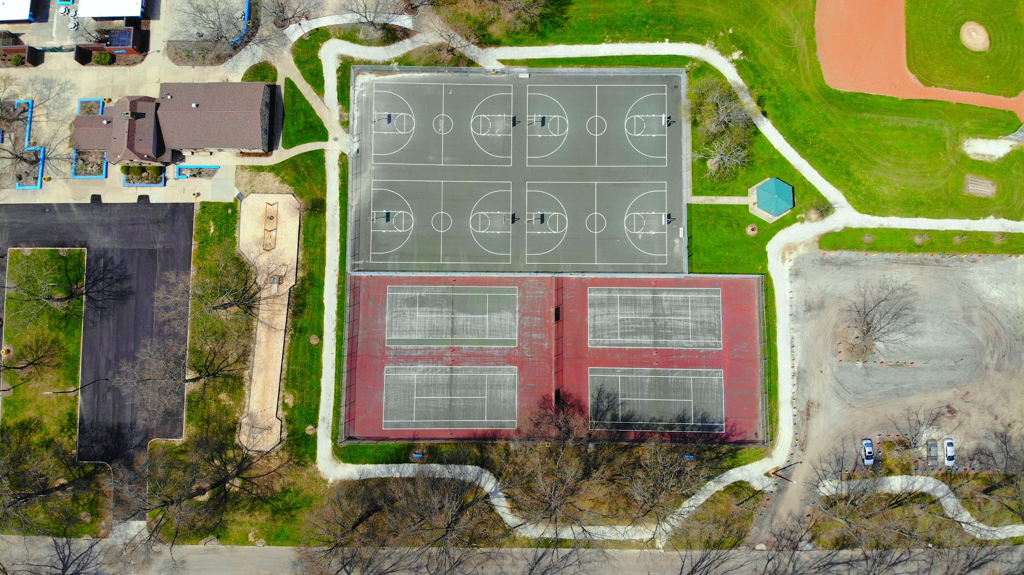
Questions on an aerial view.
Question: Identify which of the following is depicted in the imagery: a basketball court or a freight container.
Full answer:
It is a basketball court that can be seen here.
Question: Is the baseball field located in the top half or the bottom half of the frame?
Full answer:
Seen from above, the baseball field lies in the top half of the view.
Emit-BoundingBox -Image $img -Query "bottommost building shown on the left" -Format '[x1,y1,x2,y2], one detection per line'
[72,83,269,165]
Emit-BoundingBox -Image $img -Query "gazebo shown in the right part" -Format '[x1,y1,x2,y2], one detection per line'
[754,177,794,218]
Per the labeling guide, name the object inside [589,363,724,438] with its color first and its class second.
gray tennis court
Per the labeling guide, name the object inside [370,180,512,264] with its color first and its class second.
gray basketball court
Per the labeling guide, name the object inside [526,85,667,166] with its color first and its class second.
gray basketball court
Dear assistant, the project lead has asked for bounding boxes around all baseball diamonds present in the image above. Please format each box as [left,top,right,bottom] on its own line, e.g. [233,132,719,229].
[815,0,1024,124]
